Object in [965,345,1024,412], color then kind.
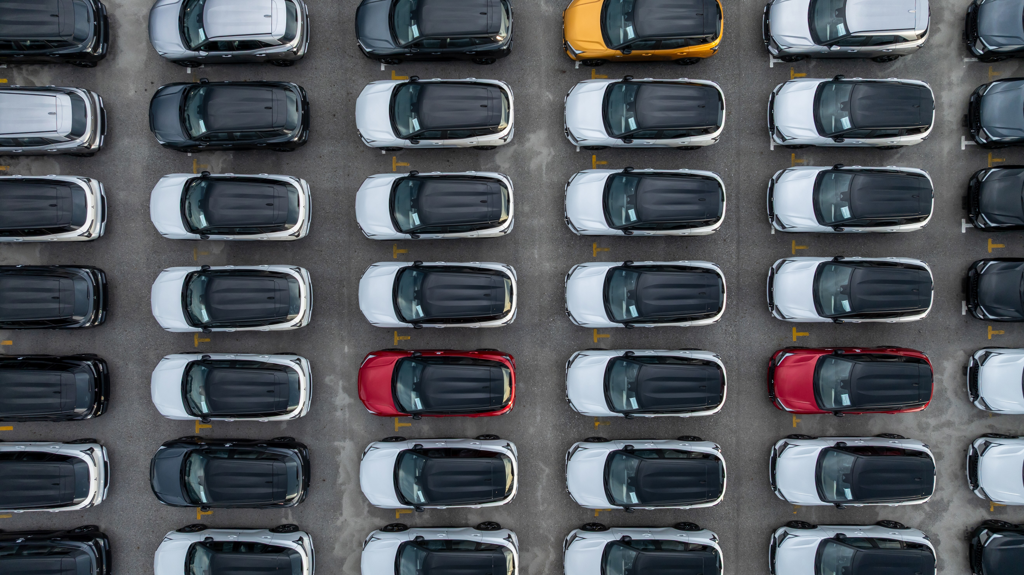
white car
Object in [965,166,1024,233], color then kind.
black car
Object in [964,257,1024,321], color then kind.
black car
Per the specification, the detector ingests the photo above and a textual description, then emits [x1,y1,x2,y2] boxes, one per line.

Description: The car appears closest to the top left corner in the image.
[0,0,109,67]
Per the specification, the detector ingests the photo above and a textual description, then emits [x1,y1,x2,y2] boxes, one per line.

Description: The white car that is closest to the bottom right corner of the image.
[966,432,1024,503]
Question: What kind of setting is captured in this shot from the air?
parking lot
